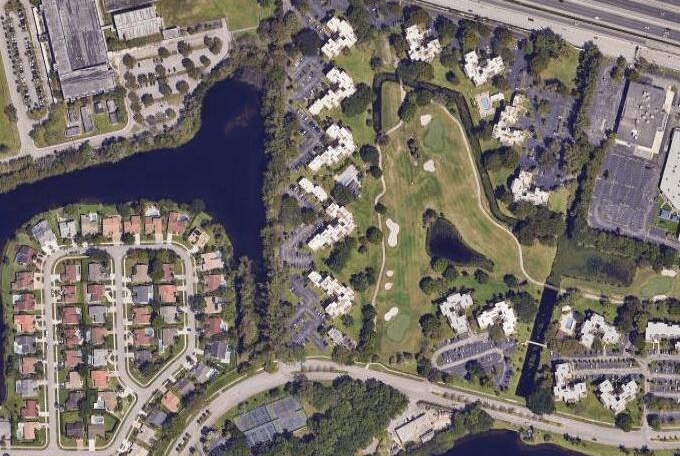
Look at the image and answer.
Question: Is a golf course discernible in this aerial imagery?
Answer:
Yes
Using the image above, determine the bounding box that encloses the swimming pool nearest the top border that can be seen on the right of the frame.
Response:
[476,91,494,117]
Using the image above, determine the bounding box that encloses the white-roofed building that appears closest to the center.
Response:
[307,202,356,252]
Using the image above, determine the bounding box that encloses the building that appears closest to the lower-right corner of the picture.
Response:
[600,380,639,414]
